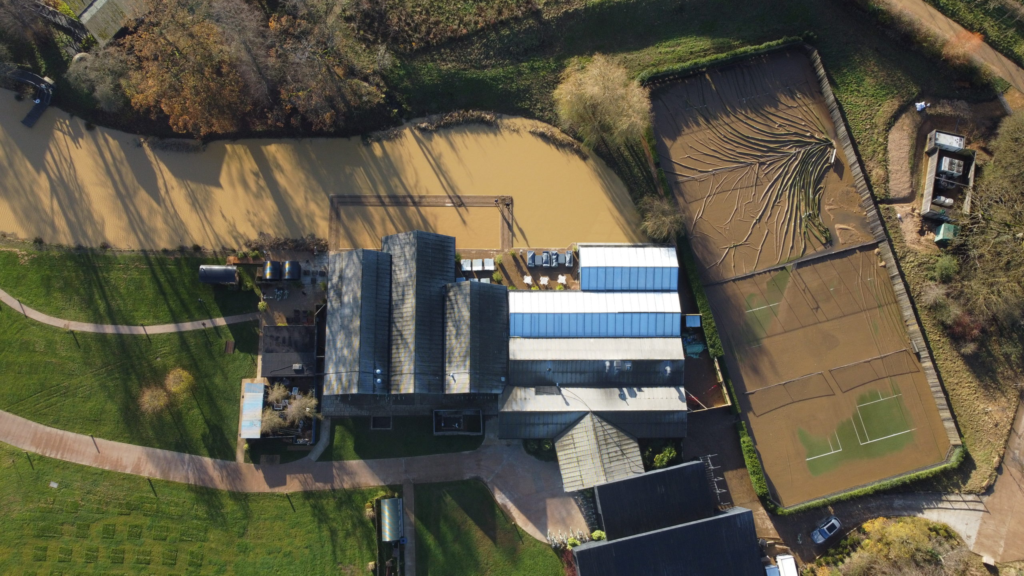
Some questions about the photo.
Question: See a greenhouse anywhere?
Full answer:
Yes, the frame does contain a greenhouse.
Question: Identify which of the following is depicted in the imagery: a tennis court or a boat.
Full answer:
Of the two, only a tennis court appears.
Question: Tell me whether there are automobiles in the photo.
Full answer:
Yes, there is an automobile in the image.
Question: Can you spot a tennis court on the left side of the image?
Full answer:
No, looking on the left side of the image, there is no tennis court.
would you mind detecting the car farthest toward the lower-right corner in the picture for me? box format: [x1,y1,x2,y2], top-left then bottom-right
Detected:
[810,516,842,544]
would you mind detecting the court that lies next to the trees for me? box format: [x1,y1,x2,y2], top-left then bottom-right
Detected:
[643,47,951,505]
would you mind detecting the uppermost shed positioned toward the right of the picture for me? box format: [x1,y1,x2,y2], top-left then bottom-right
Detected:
[930,223,954,244]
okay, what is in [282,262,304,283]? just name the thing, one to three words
shed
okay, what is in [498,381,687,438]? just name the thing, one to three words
building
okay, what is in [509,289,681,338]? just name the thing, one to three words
greenhouse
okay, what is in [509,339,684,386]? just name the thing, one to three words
building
